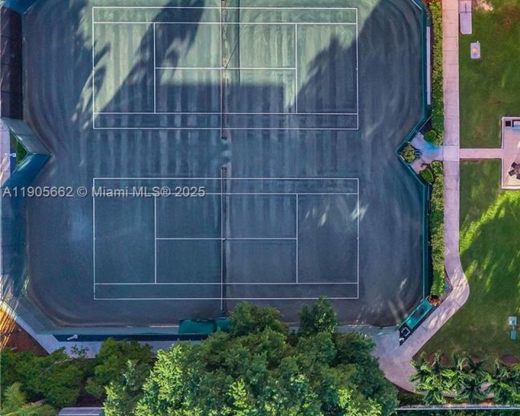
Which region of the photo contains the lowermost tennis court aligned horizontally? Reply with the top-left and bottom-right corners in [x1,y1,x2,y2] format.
[26,153,426,327]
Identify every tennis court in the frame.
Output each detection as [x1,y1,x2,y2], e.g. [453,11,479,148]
[22,0,426,153]
[26,153,426,327]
